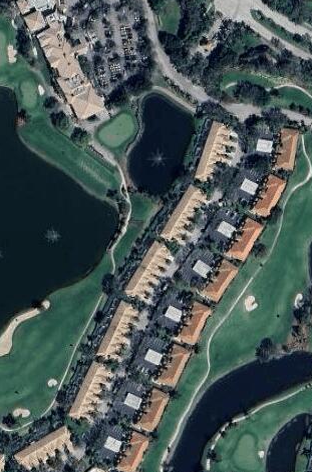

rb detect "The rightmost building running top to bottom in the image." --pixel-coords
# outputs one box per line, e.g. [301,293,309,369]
[276,128,297,169]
